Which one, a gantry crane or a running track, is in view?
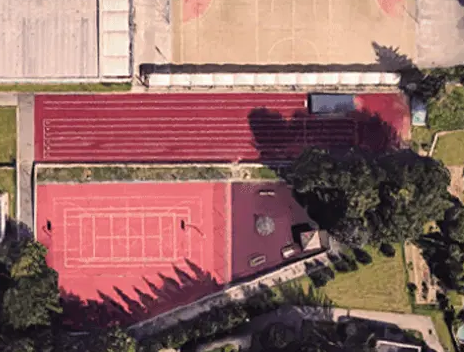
running track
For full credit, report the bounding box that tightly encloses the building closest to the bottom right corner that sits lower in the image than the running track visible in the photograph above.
[300,230,321,251]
